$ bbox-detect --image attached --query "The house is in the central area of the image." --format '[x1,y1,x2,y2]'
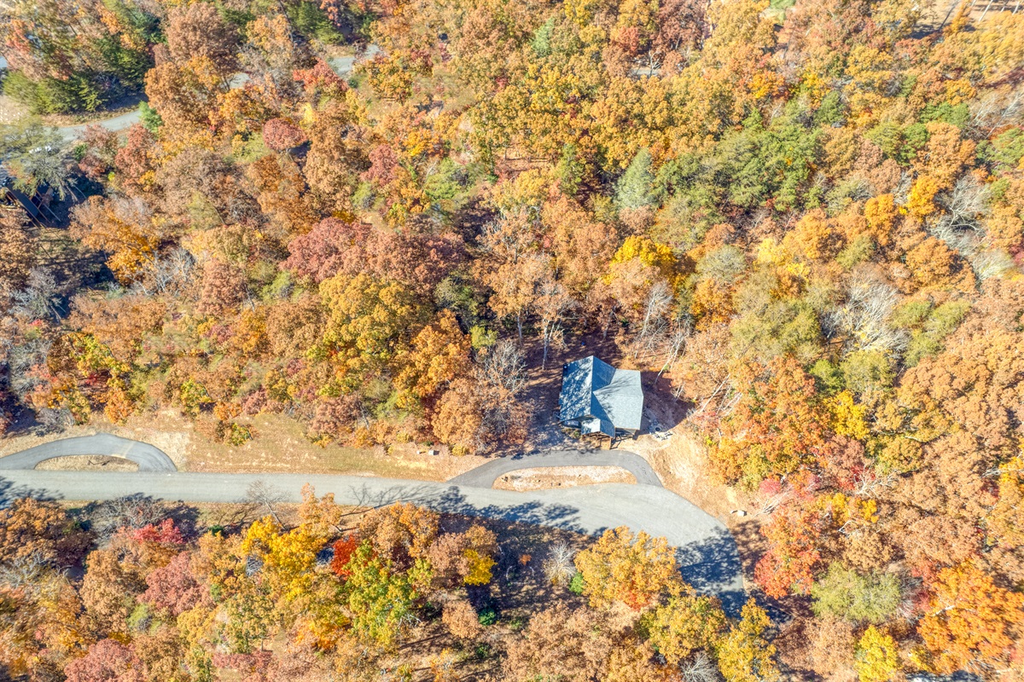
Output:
[558,354,645,454]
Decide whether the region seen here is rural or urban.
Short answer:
rural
